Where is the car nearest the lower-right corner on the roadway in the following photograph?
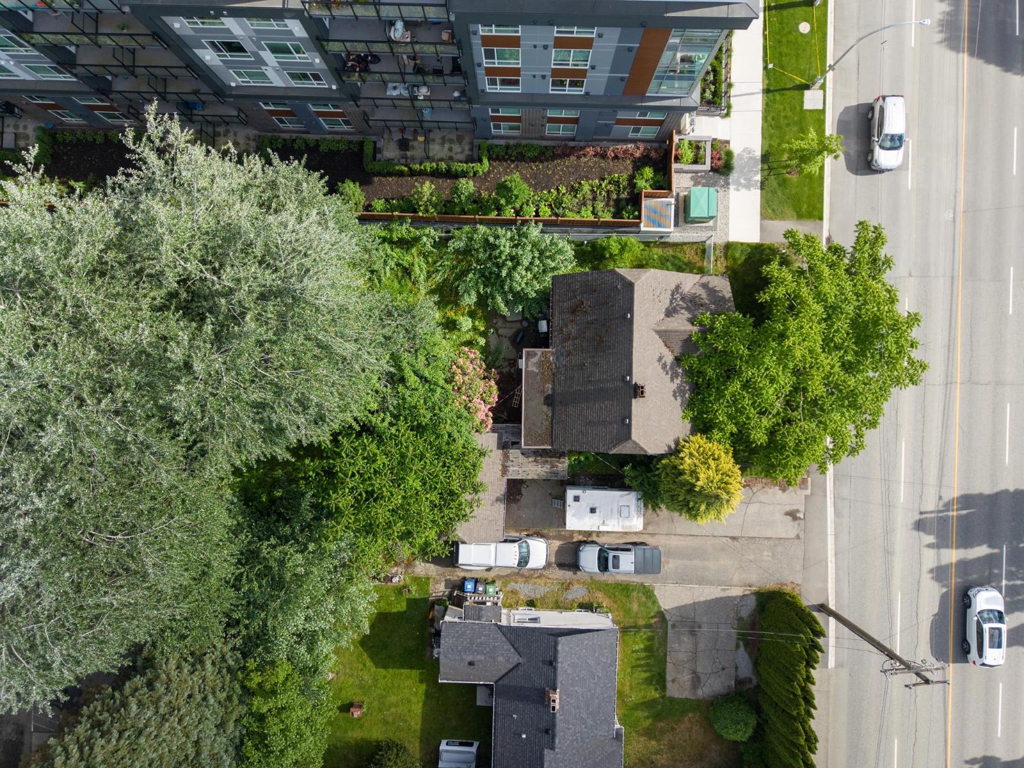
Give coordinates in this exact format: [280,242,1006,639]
[960,586,1003,664]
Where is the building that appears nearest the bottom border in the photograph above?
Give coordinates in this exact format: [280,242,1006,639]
[436,590,627,768]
